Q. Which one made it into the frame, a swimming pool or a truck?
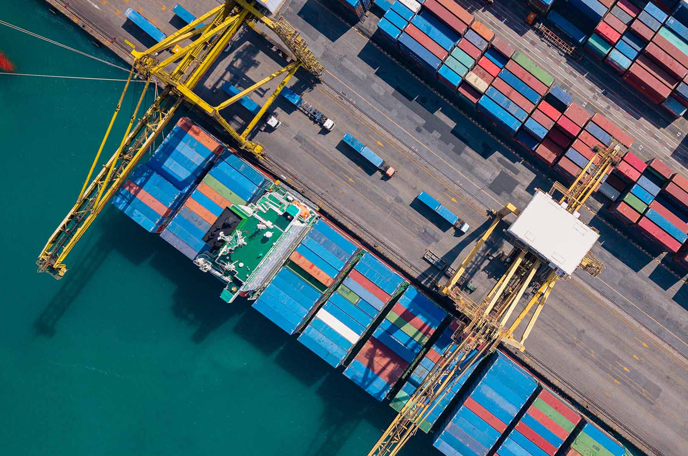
truck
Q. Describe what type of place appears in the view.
port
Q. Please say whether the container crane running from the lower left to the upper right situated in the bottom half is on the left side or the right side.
right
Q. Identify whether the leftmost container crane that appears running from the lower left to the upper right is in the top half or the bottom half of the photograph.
top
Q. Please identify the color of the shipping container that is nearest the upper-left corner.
blue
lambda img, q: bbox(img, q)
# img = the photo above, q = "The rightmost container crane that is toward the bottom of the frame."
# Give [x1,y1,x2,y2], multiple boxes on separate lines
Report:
[365,141,628,456]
